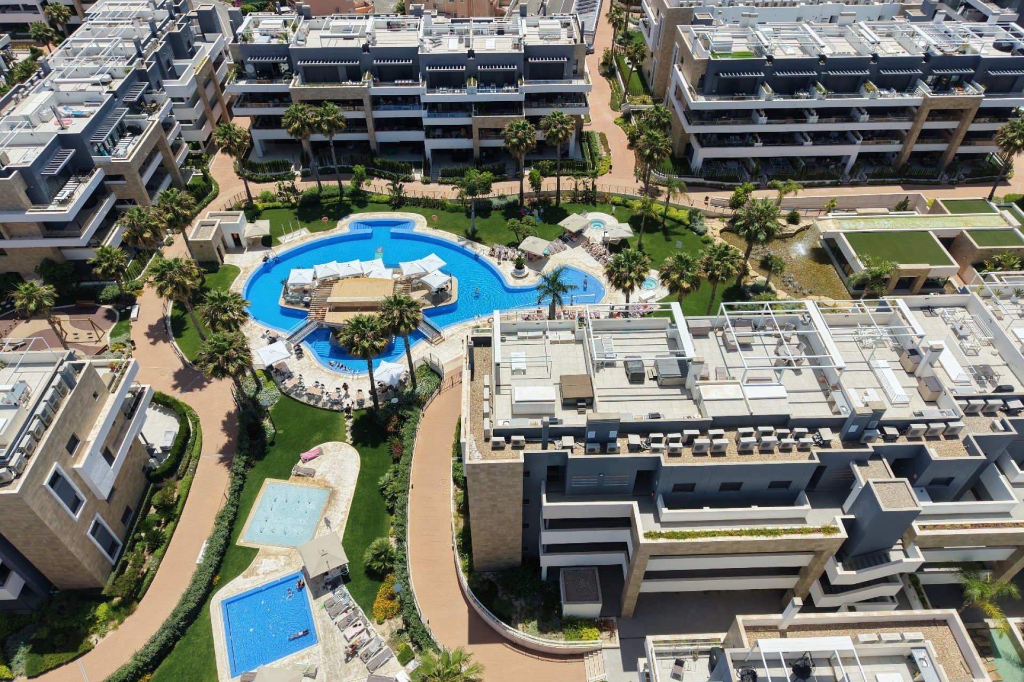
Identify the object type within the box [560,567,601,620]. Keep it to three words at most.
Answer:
building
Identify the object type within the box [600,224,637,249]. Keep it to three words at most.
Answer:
umbrella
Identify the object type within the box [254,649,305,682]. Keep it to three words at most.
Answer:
umbrella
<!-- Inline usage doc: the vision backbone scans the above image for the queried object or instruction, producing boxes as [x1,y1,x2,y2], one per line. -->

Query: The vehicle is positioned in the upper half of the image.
[585,40,602,52]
